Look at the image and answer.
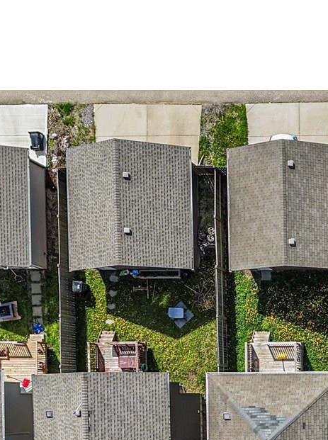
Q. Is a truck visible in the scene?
No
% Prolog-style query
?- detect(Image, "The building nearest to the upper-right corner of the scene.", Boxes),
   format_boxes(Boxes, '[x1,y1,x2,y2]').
[226,140,328,275]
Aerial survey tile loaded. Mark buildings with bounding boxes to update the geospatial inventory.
[205,370,328,440]
[65,139,201,275]
[0,145,47,270]
[32,370,199,440]
[226,140,328,275]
